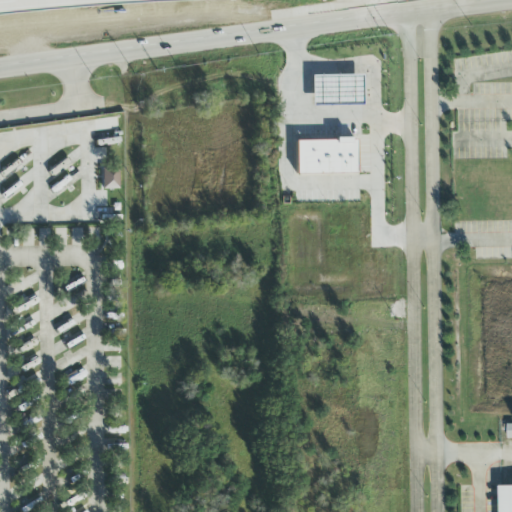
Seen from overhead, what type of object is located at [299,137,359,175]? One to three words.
building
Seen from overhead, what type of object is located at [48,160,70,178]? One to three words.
camper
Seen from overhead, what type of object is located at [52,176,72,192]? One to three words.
camper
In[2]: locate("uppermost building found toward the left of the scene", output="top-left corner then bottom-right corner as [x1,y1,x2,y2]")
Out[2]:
[104,168,121,190]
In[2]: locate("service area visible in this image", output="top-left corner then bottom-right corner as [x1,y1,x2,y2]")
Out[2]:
[262,35,410,250]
